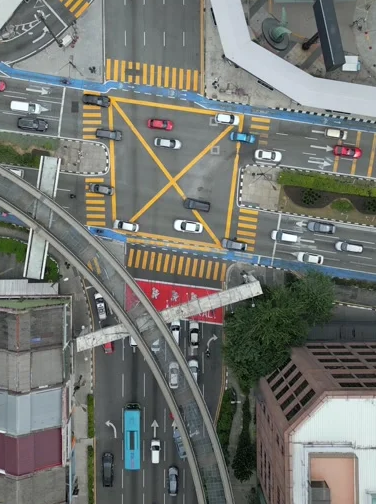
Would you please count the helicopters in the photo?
none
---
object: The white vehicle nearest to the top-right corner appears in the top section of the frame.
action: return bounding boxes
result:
[323,128,348,141]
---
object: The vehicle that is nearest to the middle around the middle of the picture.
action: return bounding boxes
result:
[173,219,203,233]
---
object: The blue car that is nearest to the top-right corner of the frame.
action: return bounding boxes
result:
[229,132,256,145]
